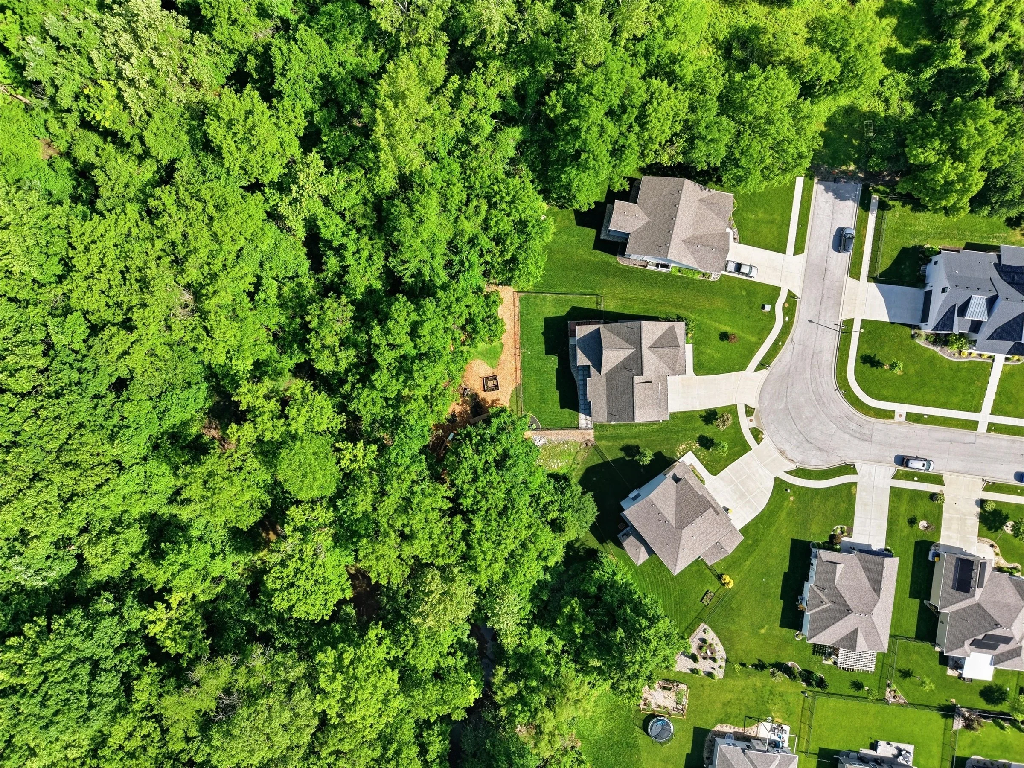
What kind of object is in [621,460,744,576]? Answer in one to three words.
house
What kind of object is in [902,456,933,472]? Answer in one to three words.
vehicle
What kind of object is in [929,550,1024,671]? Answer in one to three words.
house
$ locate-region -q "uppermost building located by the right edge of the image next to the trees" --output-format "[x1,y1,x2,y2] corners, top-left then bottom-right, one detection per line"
[921,244,1024,357]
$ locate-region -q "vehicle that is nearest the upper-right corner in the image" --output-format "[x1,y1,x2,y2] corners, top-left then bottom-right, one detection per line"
[839,227,856,254]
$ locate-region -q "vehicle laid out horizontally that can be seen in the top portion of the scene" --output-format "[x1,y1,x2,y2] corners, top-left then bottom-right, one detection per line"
[724,260,759,278]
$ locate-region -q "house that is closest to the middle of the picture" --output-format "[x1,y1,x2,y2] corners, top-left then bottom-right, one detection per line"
[576,321,686,422]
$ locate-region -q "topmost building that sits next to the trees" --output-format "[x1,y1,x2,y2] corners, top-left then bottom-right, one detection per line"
[609,176,734,273]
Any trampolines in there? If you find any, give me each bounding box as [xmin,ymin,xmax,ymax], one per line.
[648,717,676,746]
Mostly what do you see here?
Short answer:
trees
